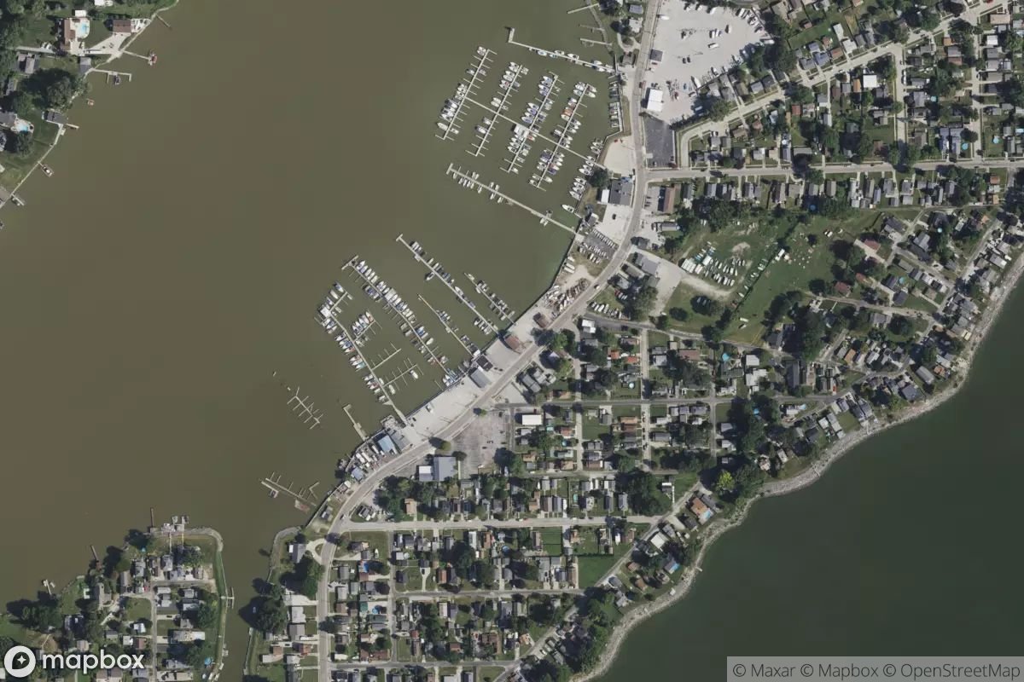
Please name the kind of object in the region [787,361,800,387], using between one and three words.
building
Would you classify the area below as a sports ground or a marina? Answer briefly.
marina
